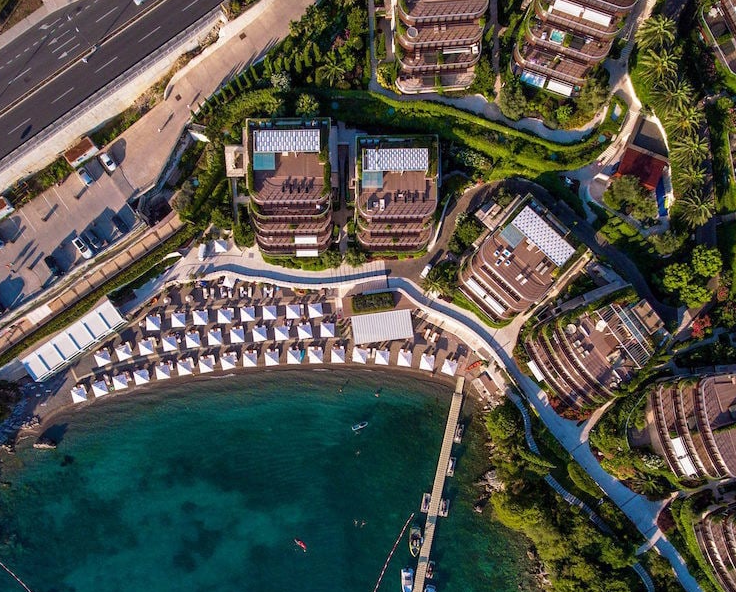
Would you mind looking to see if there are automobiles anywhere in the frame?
Yes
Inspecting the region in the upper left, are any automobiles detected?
Yes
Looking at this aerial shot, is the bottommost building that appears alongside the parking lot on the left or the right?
left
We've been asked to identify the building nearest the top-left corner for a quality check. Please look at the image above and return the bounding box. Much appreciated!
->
[63,137,100,167]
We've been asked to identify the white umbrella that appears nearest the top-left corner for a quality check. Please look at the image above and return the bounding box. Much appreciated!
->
[213,239,228,254]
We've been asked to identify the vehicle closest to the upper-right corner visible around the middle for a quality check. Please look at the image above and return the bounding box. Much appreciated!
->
[417,260,435,281]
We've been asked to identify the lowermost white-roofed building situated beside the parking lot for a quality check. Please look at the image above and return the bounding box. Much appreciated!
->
[21,299,129,382]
